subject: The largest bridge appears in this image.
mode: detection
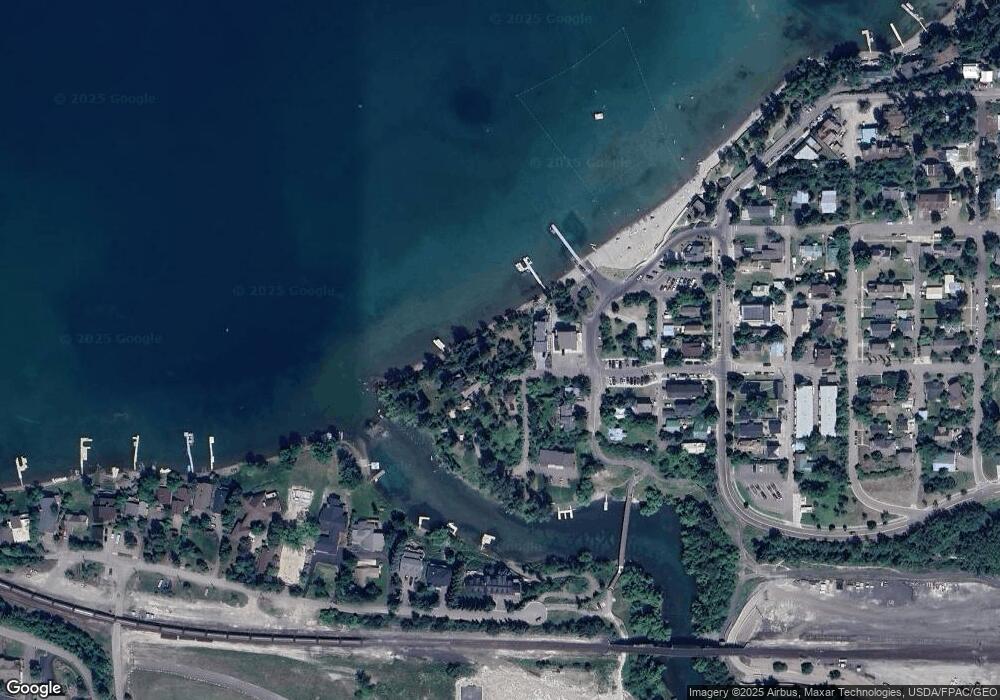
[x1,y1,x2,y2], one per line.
[608,641,746,659]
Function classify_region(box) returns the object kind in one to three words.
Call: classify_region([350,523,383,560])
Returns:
house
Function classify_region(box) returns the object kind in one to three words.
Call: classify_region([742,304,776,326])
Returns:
building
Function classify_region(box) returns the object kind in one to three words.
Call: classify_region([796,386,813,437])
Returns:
building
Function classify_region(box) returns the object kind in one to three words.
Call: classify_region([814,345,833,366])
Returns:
house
